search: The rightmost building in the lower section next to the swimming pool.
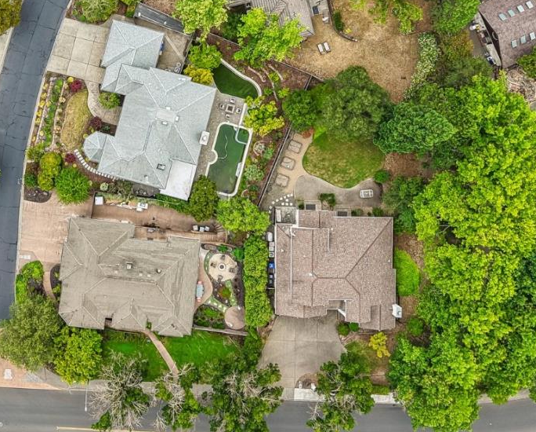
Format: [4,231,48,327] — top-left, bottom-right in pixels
[270,204,397,334]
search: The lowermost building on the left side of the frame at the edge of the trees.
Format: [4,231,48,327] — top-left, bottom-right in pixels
[57,217,204,339]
